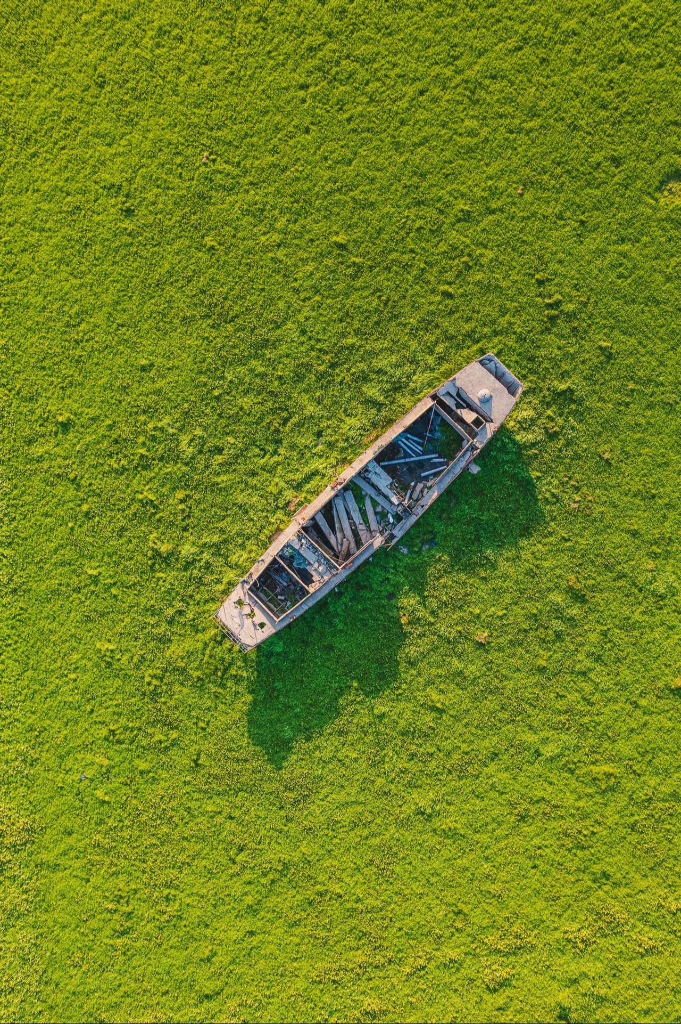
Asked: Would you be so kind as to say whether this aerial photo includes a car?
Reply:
No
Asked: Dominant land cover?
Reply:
grass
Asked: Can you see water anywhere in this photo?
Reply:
No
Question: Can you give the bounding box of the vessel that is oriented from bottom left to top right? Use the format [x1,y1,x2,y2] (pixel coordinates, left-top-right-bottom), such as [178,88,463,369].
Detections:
[213,354,523,653]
